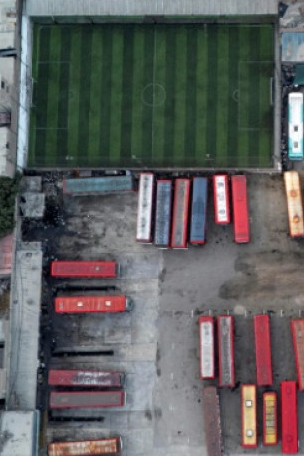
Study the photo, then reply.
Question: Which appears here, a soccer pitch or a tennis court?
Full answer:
The one in the frame is a soccer pitch.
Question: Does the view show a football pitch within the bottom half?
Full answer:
No, no football pitch appears within the bottom half.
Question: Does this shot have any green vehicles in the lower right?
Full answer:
No, no green vehicle appears in the lower right.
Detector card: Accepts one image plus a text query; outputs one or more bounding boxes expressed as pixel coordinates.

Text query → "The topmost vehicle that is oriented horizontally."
[61,176,136,196]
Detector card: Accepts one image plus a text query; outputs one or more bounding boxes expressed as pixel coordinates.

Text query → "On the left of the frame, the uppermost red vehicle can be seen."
[51,260,121,277]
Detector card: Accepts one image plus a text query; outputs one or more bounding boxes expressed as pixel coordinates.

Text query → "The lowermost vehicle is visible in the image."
[48,437,125,456]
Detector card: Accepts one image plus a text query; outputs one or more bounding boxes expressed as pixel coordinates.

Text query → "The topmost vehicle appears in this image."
[287,92,304,166]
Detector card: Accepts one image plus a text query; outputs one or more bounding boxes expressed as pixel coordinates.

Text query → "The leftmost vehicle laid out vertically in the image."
[135,172,156,247]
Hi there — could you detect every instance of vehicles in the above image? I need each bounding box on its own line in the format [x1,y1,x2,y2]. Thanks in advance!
[61,176,136,196]
[262,391,278,446]
[281,380,298,455]
[232,175,251,247]
[214,175,231,228]
[48,437,125,456]
[55,296,131,312]
[190,177,209,247]
[154,179,173,251]
[284,171,304,241]
[291,319,304,392]
[51,260,121,277]
[135,172,156,247]
[199,315,216,380]
[254,314,272,387]
[171,179,191,252]
[287,92,304,166]
[50,389,128,407]
[48,370,126,386]
[241,384,258,449]
[218,315,235,387]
